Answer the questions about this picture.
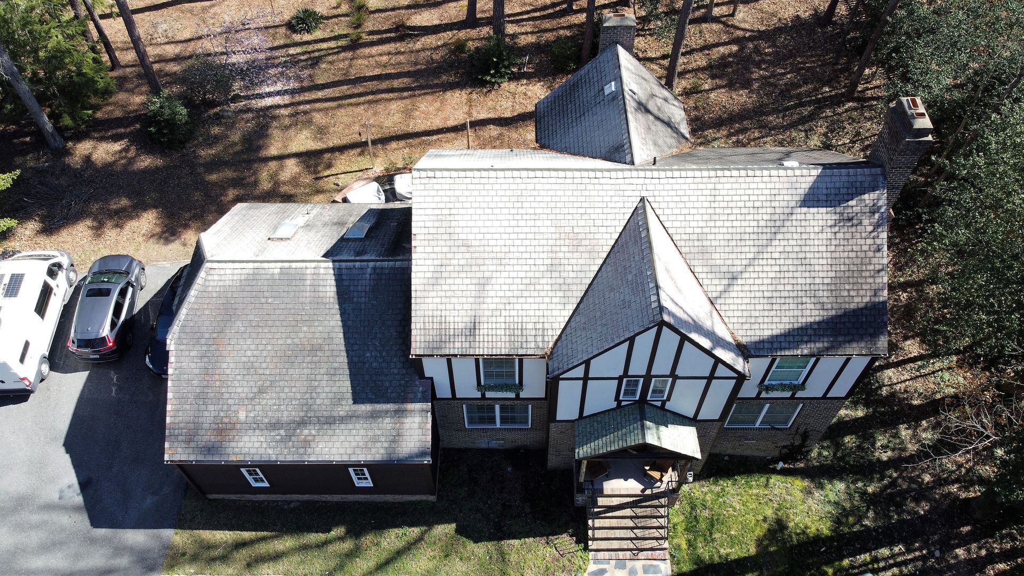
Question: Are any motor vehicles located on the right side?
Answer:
No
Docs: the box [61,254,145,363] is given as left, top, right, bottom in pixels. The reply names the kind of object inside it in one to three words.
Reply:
car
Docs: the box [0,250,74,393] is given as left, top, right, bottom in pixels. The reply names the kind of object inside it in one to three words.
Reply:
van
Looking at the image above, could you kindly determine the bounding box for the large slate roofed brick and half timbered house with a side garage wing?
[158,12,935,508]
